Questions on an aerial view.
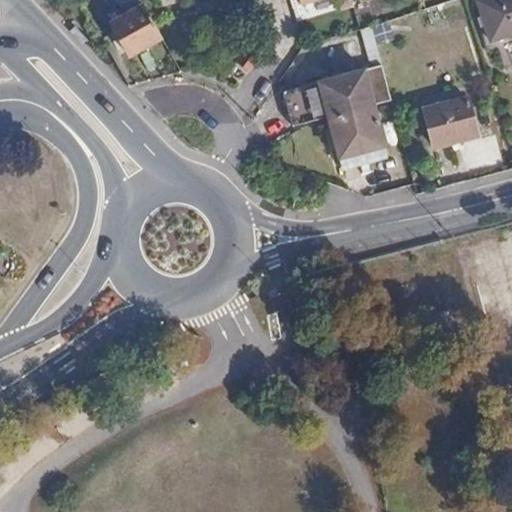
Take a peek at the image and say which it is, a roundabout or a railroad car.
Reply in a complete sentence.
There is a roundabout in the scene.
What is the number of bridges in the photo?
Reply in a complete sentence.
No bridges are visible.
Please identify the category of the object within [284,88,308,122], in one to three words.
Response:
building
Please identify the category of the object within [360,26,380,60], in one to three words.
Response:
shed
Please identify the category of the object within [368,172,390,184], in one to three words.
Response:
vehicle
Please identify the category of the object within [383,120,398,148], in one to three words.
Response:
boat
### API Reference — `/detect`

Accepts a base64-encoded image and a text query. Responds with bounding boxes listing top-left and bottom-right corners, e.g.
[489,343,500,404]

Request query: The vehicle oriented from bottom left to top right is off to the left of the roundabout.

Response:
[37,267,54,288]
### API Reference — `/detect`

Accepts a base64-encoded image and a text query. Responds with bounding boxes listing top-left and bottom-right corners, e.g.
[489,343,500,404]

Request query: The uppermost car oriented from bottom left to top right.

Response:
[254,78,272,102]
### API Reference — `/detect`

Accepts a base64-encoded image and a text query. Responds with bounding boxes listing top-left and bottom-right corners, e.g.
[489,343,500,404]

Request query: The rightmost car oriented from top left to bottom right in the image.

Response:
[198,110,219,128]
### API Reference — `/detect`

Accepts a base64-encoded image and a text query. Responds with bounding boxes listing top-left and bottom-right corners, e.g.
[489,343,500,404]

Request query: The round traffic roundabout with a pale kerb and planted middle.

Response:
[98,161,257,322]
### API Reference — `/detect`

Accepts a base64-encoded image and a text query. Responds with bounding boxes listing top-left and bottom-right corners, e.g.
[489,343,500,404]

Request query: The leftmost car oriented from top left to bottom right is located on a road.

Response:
[96,94,115,114]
